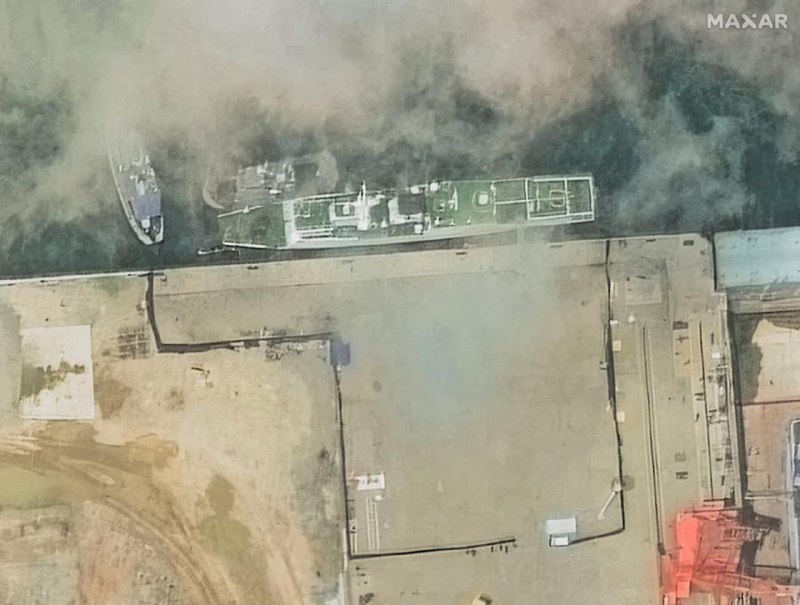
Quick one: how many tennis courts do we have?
zero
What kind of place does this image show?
port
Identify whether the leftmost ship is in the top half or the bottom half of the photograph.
top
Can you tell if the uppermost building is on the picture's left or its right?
right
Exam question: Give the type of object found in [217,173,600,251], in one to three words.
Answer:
ship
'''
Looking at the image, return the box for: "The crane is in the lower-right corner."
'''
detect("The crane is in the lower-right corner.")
[664,500,800,605]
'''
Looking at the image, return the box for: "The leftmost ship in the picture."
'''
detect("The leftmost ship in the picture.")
[107,109,164,247]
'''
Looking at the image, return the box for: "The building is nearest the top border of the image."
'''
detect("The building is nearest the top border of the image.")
[716,231,800,293]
